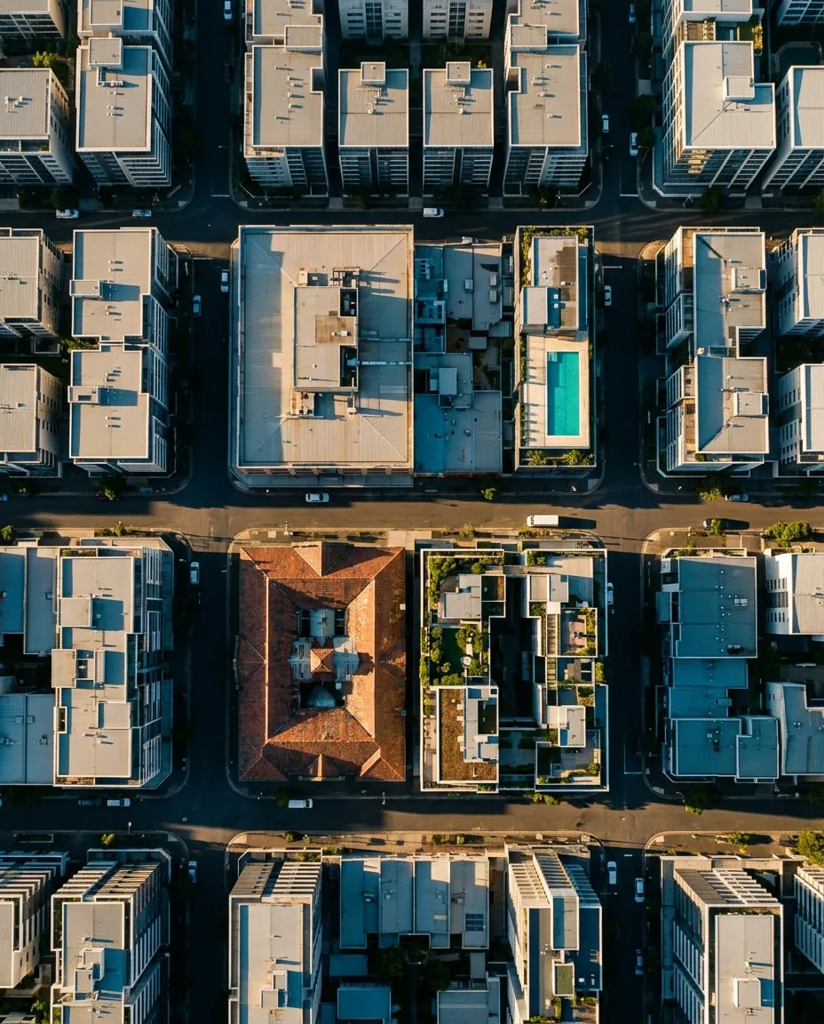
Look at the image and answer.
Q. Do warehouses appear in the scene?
Yes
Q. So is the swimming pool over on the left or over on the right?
right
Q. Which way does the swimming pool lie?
vertically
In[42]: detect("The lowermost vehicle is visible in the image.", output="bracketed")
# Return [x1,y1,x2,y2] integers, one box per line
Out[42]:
[634,948,646,974]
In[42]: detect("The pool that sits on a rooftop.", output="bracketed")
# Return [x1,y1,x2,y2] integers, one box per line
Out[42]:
[547,351,580,436]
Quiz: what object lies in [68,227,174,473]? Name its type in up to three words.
building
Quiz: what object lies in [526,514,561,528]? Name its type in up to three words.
vehicle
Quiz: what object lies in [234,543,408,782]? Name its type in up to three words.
building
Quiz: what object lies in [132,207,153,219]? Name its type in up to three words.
vehicle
